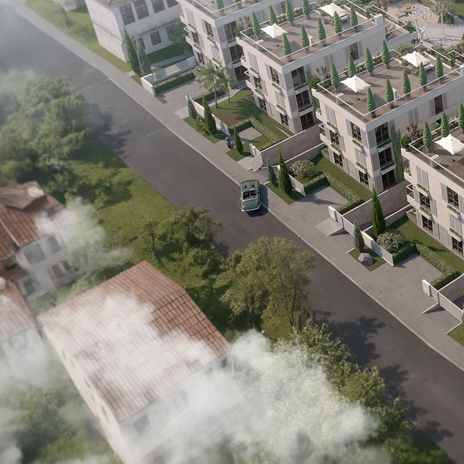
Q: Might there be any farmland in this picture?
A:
No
